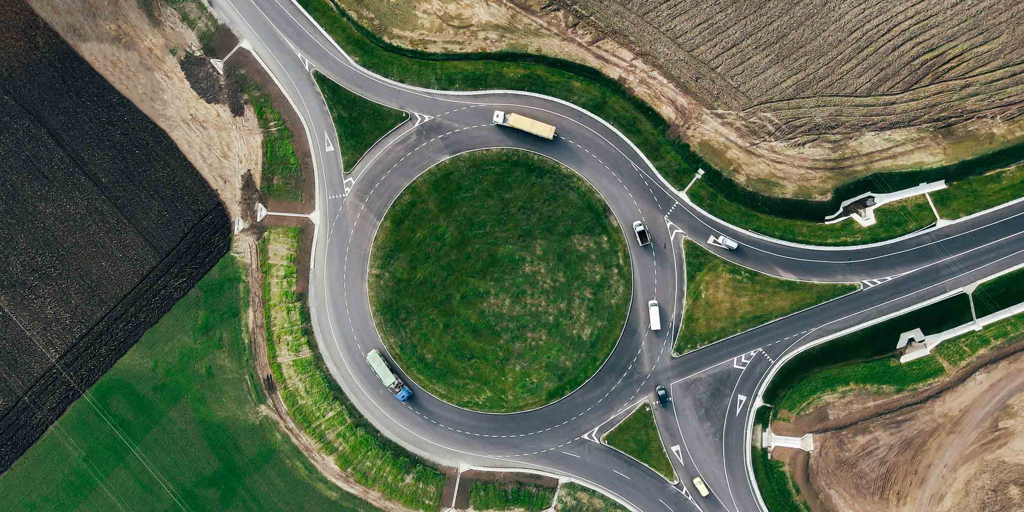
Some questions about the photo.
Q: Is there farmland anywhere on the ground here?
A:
Yes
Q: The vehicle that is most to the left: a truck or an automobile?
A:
truck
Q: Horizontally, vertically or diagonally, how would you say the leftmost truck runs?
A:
diagonally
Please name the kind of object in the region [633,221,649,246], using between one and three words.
vehicle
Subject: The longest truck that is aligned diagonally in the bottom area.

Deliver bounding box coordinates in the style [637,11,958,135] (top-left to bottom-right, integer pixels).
[366,349,414,402]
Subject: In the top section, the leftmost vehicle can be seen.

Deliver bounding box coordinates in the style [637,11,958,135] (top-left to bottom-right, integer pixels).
[492,109,556,140]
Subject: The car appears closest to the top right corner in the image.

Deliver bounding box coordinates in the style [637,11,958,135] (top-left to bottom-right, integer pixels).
[717,235,738,250]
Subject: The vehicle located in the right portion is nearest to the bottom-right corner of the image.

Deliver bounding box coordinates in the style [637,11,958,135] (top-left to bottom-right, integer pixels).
[692,475,708,496]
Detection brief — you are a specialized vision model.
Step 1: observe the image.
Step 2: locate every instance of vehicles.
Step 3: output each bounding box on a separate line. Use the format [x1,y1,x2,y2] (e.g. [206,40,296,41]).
[647,300,660,330]
[717,235,738,250]
[366,349,414,402]
[692,475,708,496]
[656,384,668,406]
[492,109,556,140]
[633,221,649,246]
